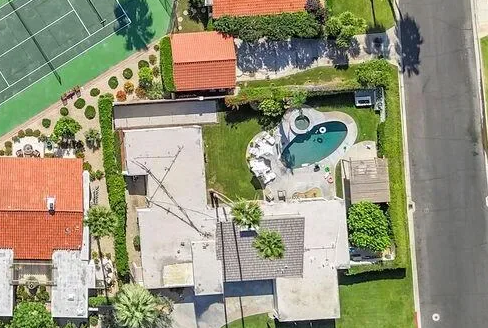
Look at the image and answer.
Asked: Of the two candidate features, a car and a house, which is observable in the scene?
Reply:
house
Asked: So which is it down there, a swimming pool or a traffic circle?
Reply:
swimming pool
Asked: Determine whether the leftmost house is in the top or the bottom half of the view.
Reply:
bottom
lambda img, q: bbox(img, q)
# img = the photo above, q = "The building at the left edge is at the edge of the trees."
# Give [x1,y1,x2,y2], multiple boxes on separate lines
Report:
[0,157,98,319]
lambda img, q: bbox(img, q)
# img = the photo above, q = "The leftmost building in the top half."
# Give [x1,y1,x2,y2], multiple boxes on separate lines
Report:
[170,32,237,91]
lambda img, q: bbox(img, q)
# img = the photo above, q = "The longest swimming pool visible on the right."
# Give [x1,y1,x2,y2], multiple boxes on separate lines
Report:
[280,119,350,172]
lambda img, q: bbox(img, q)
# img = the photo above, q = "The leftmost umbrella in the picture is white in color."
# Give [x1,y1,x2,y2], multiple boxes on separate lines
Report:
[250,158,265,173]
